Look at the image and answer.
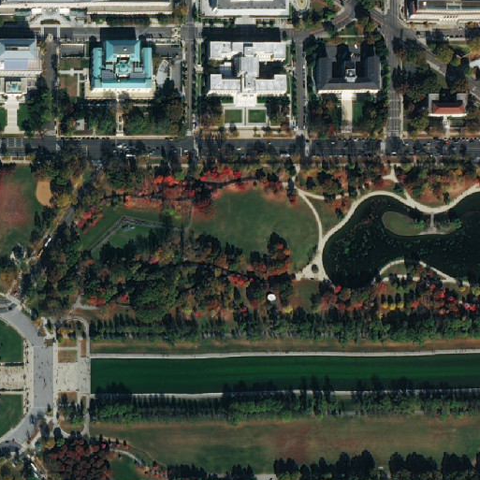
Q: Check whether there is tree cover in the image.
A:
Yes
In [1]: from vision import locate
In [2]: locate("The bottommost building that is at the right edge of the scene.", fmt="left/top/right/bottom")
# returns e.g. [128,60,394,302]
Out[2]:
[428,93,467,127]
